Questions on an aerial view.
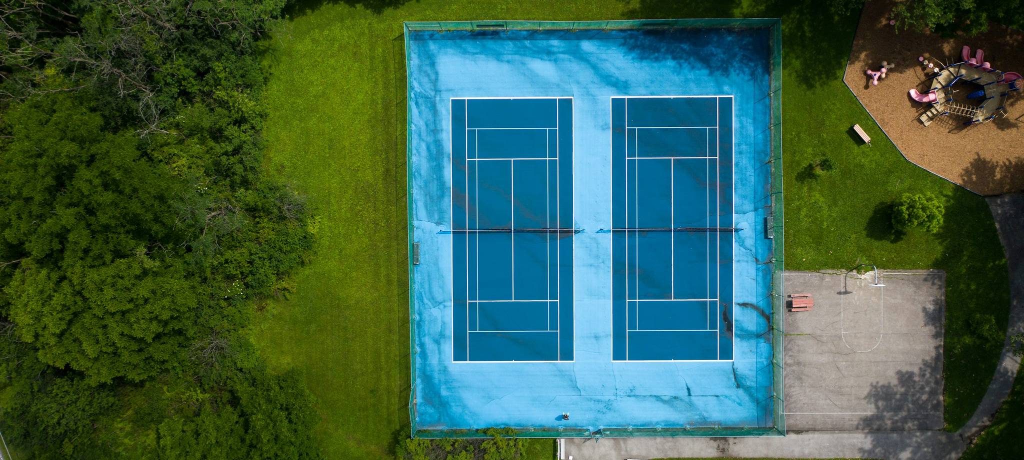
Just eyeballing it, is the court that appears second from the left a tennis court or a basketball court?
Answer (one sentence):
The court that appears second from the left can be classified as a tennis court.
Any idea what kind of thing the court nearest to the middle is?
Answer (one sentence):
From above, the court nearest to the middle can be identified as a tennis court.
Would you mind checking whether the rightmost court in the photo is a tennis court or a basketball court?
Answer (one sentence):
The rightmost court can be classified as a basketball court.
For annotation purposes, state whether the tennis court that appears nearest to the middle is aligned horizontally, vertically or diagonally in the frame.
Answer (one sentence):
In this picture, the tennis court that appears nearest to the middle is oriented vertically.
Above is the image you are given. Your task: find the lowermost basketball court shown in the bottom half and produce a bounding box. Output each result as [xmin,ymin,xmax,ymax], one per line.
[776,270,945,431]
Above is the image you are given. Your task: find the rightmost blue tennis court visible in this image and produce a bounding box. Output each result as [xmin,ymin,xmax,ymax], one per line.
[610,95,735,362]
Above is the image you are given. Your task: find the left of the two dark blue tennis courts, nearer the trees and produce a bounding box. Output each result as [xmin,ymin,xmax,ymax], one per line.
[451,96,575,362]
